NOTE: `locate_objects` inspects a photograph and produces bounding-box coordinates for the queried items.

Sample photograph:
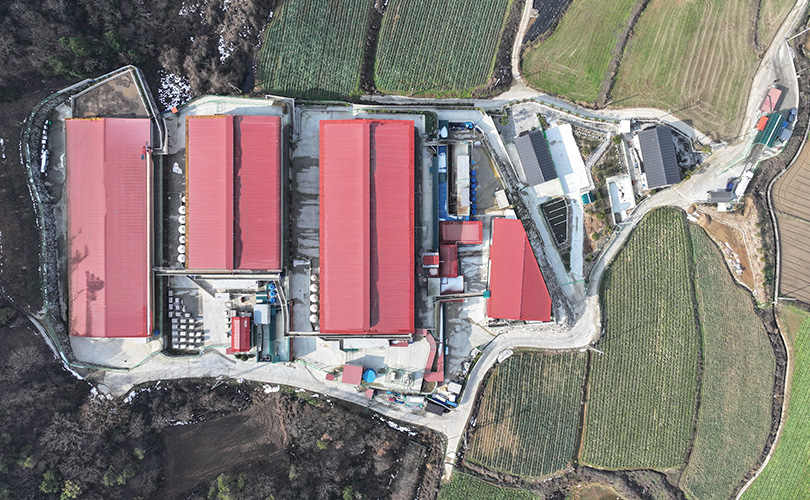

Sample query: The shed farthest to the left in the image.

[65,118,153,338]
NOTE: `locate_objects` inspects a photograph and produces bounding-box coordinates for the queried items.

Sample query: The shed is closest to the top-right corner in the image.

[756,87,782,113]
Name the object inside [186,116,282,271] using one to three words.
shed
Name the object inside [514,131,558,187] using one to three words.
house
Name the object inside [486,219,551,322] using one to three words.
shed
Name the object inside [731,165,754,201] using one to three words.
truck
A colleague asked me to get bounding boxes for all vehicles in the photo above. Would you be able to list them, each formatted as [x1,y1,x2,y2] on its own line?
[723,177,734,191]
[731,165,754,201]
